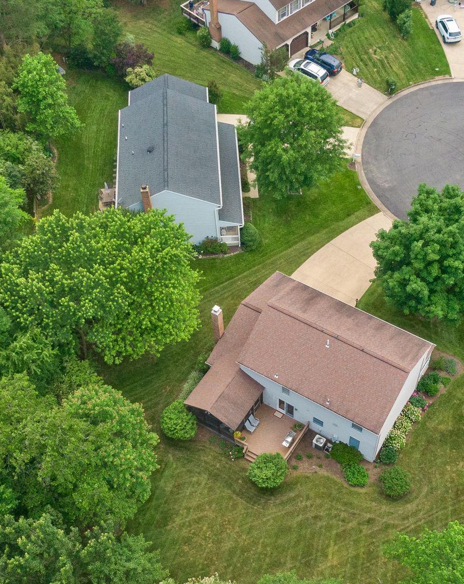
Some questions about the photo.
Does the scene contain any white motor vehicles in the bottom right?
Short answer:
No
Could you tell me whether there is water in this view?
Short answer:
No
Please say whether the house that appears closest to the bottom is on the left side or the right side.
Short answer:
right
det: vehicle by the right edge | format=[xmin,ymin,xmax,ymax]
[436,15,462,43]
